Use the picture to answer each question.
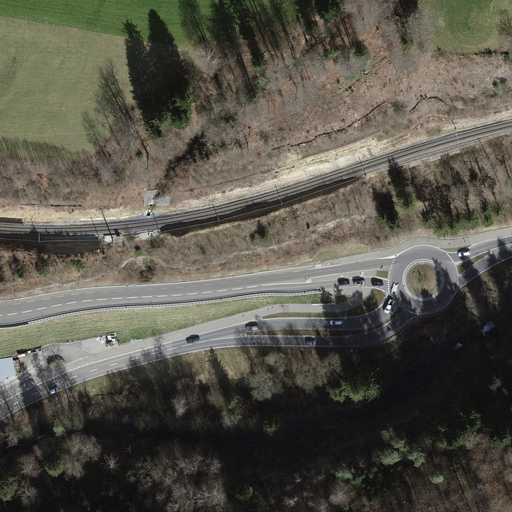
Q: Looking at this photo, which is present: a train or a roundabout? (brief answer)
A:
roundabout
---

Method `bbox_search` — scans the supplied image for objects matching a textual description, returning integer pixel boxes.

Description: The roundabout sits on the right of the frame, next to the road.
[388,246,458,315]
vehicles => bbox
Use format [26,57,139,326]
[392,282,398,294]
[372,281,384,287]
[305,338,316,344]
[246,324,258,330]
[458,250,470,256]
[352,280,365,286]
[330,320,343,325]
[107,332,114,347]
[186,336,200,342]
[338,280,350,286]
